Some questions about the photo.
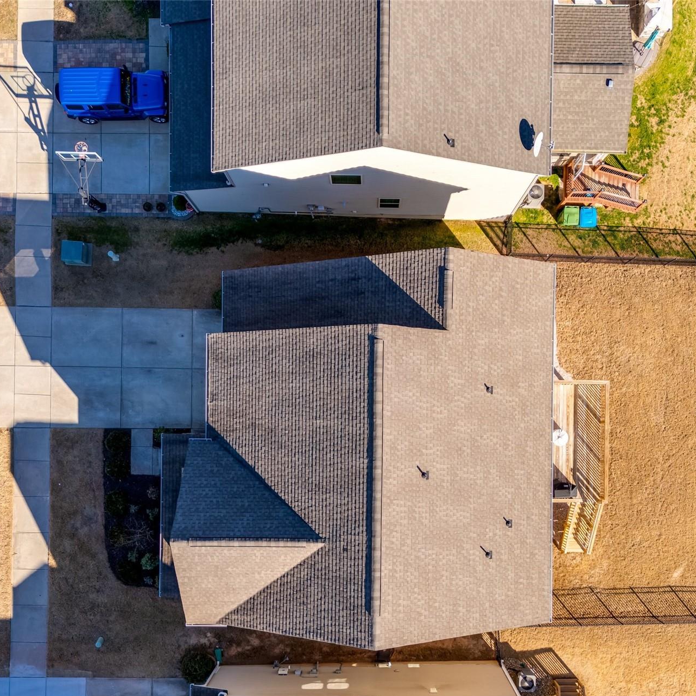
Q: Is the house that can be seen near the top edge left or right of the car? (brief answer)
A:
right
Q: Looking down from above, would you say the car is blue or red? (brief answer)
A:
blue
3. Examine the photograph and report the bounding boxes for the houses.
[157,248,557,653]
[187,646,522,696]
[159,0,635,223]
